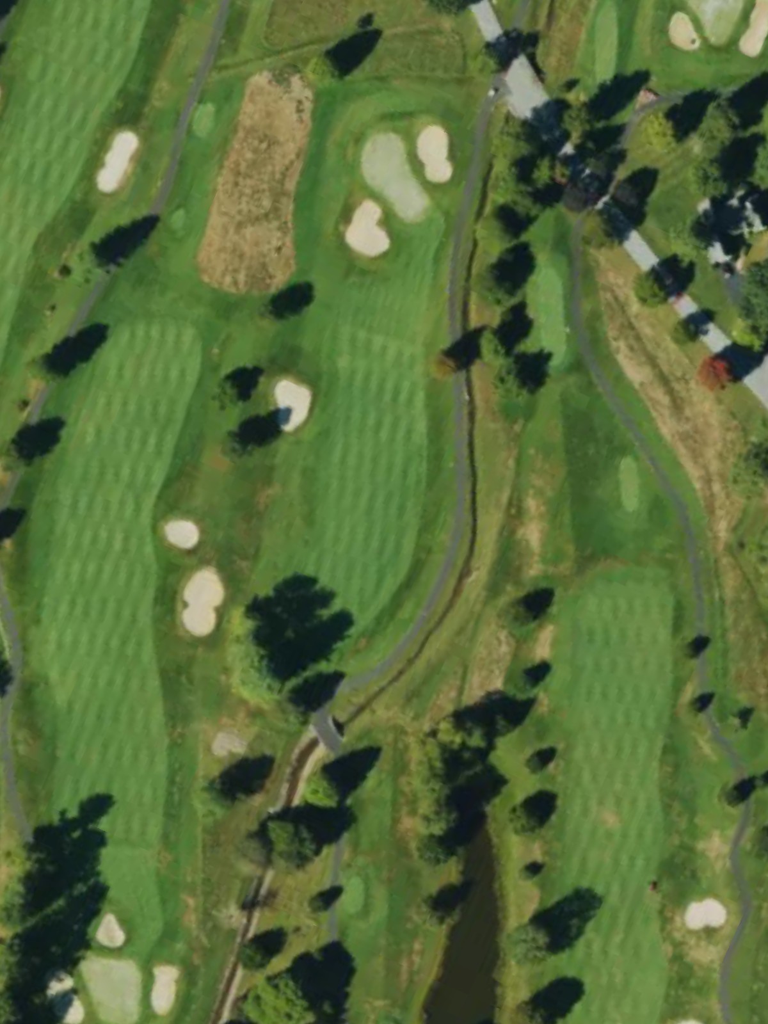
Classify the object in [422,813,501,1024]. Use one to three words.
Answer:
pond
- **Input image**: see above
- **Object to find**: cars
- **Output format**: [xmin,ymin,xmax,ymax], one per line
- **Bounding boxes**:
[723,271,733,282]
[672,289,685,303]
